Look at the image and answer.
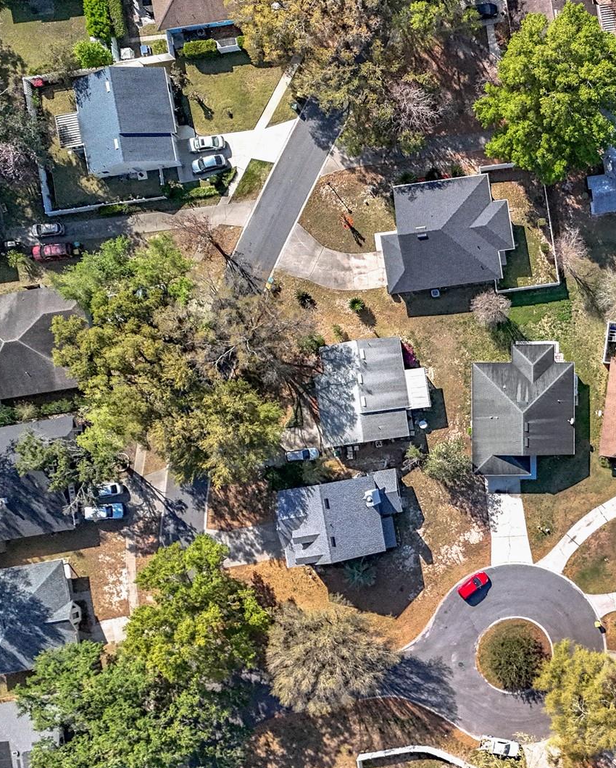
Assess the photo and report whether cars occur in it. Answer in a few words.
Yes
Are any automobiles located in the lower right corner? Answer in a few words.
Yes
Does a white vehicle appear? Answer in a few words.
Yes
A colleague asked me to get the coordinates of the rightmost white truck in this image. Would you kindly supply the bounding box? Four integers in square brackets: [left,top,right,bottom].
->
[480,735,522,758]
